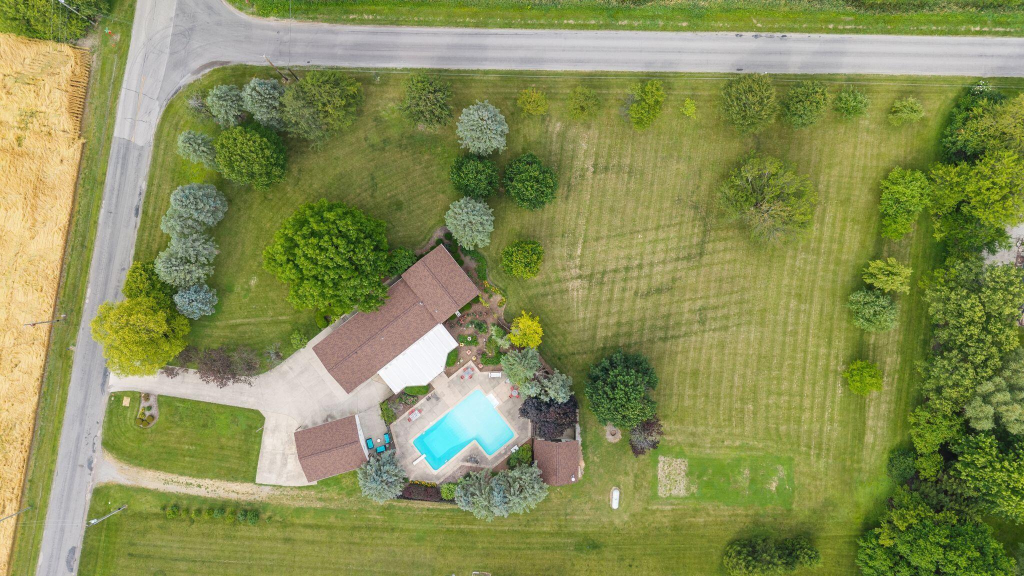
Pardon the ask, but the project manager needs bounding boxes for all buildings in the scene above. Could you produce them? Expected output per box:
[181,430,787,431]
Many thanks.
[295,413,371,484]
[313,244,480,394]
[534,437,581,486]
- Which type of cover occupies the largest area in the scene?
grass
